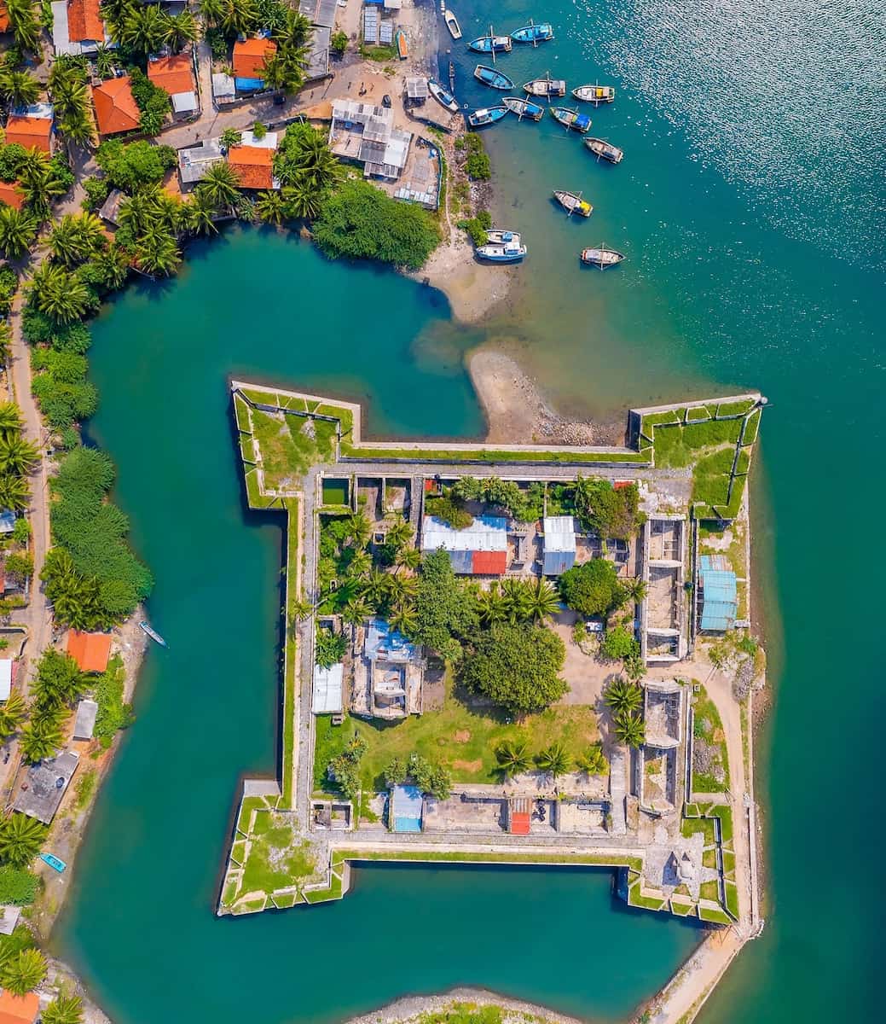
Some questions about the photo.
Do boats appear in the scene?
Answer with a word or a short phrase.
Yes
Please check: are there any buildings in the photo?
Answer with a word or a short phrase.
Yes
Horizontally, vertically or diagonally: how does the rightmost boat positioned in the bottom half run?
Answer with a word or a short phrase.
diagonally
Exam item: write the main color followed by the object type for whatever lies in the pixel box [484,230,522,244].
white boat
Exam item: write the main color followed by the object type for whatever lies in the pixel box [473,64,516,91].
blue boat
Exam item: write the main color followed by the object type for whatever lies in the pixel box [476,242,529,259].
white boat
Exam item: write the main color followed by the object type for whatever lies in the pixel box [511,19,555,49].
blue boat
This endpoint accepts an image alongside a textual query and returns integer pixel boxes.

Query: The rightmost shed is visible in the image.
[698,555,736,630]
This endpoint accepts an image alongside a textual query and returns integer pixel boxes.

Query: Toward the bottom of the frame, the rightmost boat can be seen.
[140,621,169,648]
